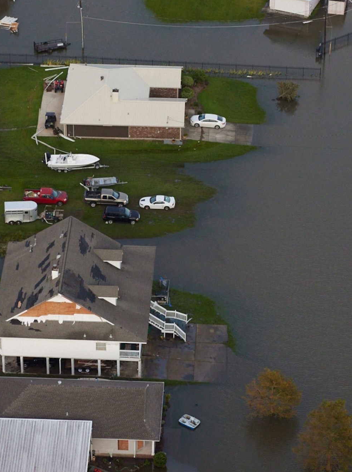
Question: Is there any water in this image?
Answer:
Yes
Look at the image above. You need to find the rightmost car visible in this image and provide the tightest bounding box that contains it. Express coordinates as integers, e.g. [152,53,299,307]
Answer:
[190,113,227,129]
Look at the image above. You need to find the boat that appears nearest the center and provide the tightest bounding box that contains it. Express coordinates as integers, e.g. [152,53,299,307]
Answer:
[76,174,117,189]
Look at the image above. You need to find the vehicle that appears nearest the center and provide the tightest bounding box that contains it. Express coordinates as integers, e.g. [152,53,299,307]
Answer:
[139,193,176,210]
